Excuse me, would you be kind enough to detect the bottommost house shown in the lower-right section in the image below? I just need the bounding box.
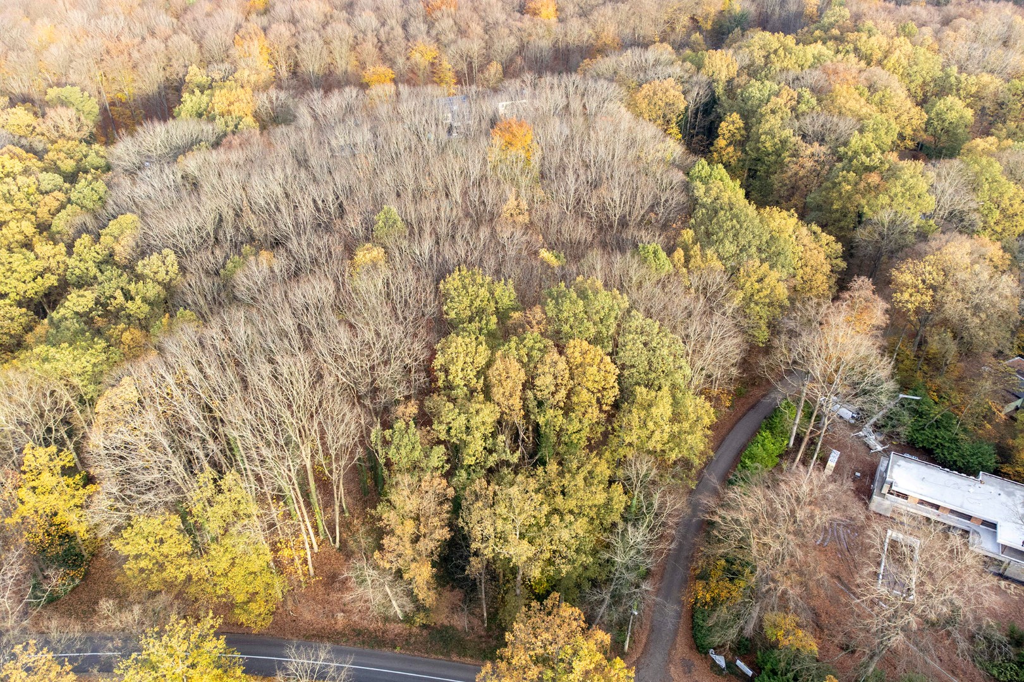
[868,452,1024,579]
